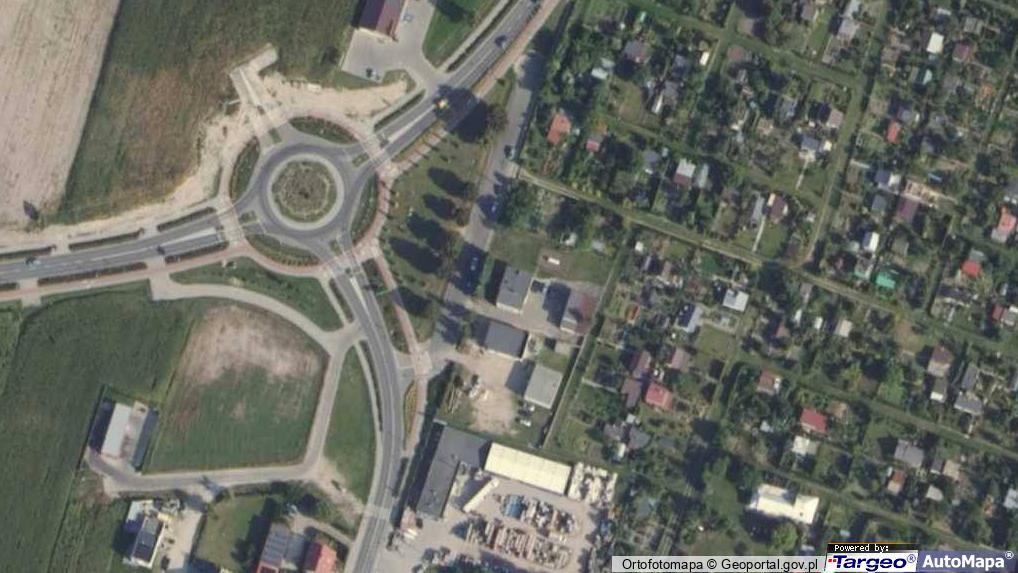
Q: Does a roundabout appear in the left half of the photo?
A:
Yes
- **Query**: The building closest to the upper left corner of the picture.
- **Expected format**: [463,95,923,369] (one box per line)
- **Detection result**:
[356,0,410,40]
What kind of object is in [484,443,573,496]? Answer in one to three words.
building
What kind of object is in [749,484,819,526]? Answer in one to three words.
building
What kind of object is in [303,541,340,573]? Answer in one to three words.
house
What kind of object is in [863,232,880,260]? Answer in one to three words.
shed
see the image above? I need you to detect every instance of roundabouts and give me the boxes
[250,136,363,246]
